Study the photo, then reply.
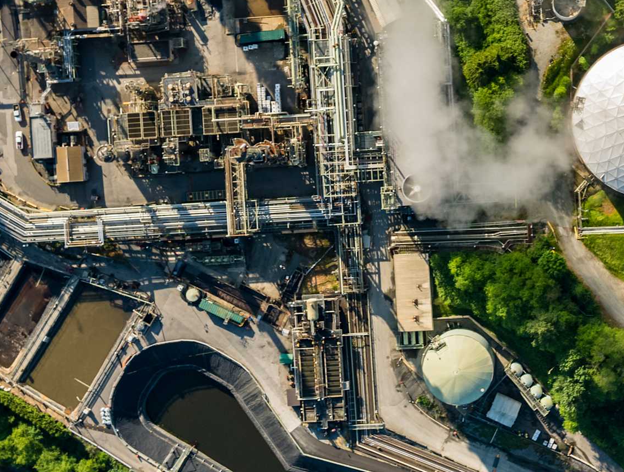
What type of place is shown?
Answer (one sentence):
The area seen from above is an industrial area.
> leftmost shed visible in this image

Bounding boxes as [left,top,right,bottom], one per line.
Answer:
[32,116,59,160]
